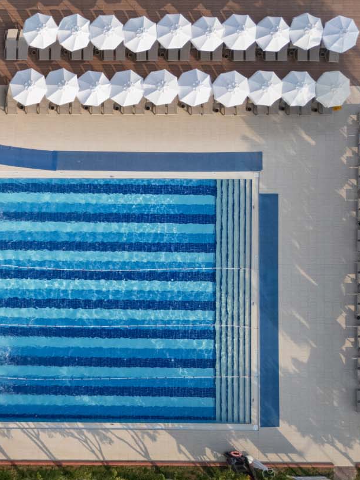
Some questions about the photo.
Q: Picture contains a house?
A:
No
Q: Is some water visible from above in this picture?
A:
Yes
